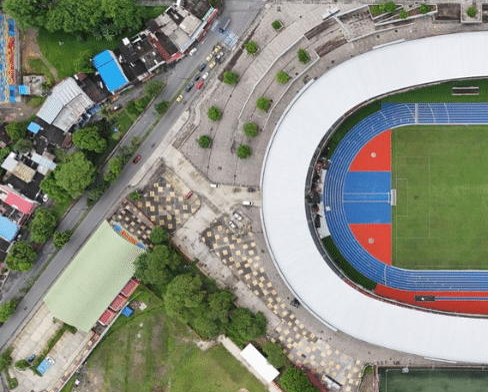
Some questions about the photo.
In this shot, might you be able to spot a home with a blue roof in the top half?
Yes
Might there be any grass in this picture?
Yes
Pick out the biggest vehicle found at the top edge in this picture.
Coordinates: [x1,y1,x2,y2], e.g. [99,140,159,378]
[216,18,230,35]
